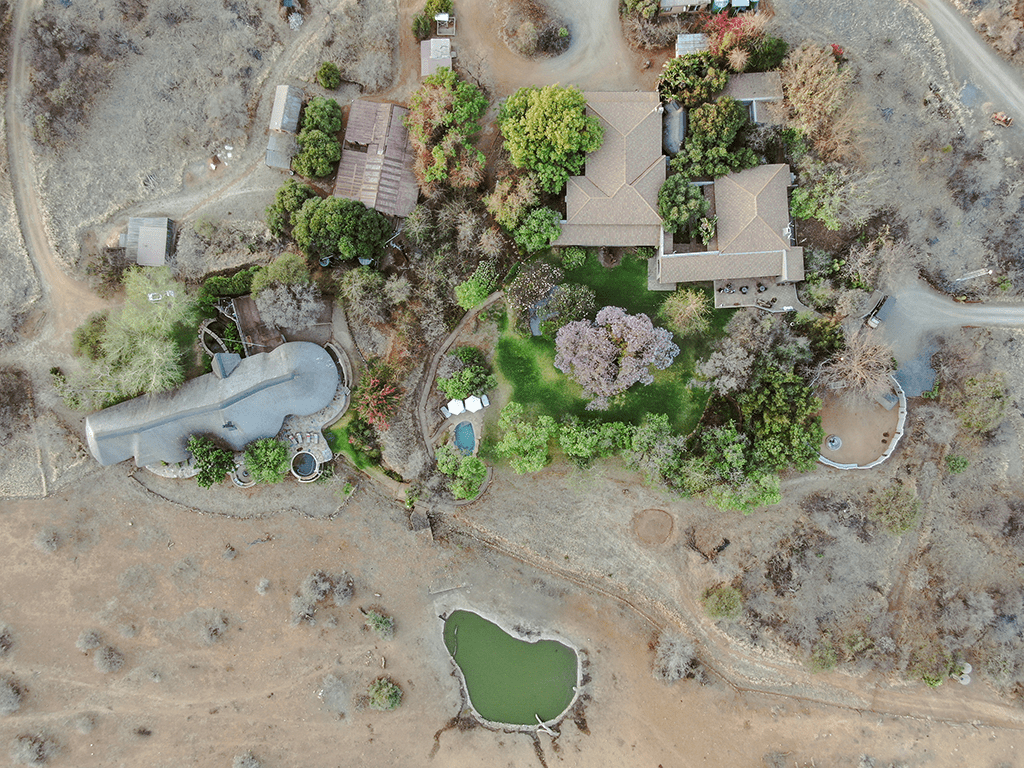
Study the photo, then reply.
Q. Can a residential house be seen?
Yes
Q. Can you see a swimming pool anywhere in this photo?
Yes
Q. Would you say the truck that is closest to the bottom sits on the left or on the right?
right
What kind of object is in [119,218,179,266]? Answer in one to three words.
shed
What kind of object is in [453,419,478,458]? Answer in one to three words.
swimming pool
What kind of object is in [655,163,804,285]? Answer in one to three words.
house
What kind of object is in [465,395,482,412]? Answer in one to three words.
umbrella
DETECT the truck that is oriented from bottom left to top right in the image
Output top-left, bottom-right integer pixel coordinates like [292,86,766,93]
[865,294,897,330]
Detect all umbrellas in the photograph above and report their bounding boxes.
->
[448,397,464,416]
[465,395,482,412]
